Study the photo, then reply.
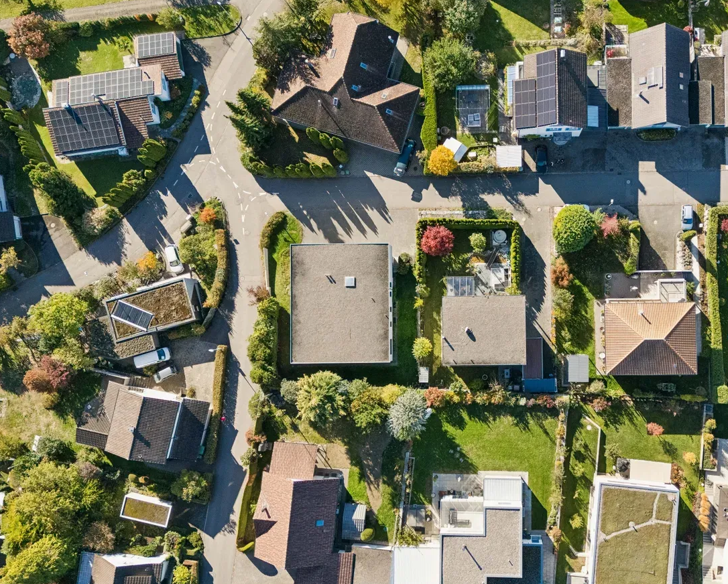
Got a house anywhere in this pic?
Yes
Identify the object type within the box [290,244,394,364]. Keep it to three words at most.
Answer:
house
